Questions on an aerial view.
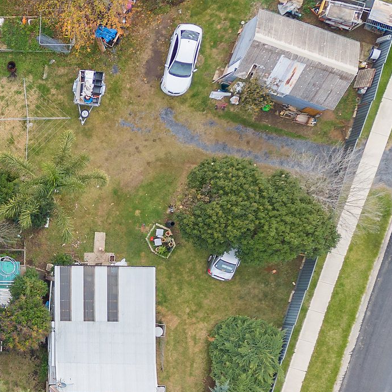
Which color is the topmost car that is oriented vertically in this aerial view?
white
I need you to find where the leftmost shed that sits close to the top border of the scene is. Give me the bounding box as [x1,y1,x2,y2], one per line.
[222,10,360,111]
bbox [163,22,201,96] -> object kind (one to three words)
car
